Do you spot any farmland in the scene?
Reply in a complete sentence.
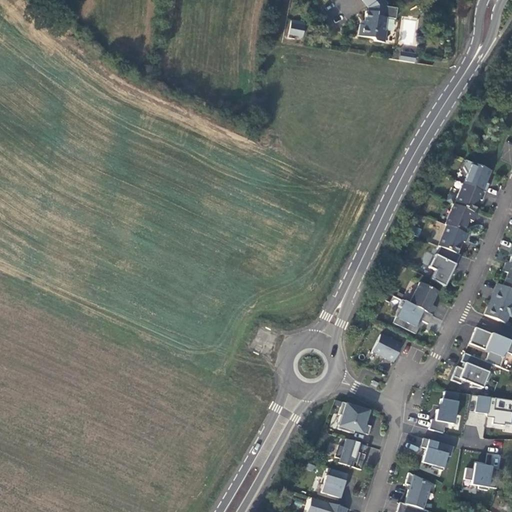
Yes, some farmland is visible.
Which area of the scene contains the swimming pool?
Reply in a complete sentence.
The swimming pool is in the top right part of the image.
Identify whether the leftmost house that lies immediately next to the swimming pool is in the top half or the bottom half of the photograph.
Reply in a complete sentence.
The leftmost house that lies immediately next to the swimming pool is in the top half of the image.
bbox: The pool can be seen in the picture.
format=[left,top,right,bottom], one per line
[400,17,419,46]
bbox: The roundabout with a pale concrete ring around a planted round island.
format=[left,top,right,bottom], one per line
[270,300,352,420]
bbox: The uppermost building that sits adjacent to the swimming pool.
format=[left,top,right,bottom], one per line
[356,0,398,45]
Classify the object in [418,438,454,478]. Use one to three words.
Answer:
house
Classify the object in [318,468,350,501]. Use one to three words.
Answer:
house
